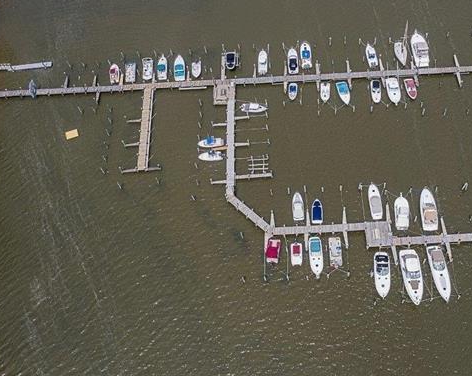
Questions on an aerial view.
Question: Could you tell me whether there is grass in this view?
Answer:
No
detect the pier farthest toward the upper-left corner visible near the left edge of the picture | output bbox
[0,61,53,75]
